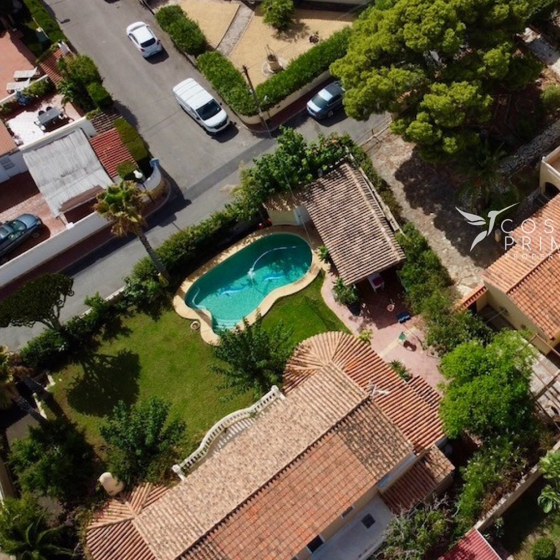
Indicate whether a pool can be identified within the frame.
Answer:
Yes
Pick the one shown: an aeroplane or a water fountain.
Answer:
water fountain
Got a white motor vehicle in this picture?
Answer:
Yes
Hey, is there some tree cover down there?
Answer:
Yes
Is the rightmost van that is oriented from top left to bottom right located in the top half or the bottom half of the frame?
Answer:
top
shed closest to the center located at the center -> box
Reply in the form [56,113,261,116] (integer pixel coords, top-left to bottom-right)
[260,162,408,302]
